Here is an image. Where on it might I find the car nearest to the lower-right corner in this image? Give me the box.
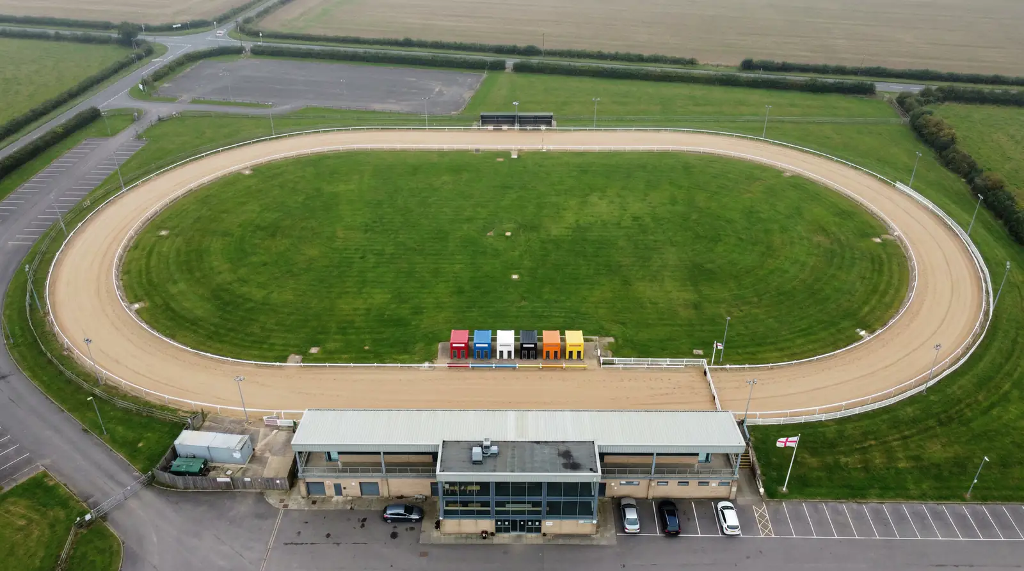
[717,502,739,533]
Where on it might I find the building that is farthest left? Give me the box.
[173,429,254,466]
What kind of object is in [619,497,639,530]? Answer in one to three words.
car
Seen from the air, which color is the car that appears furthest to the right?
white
